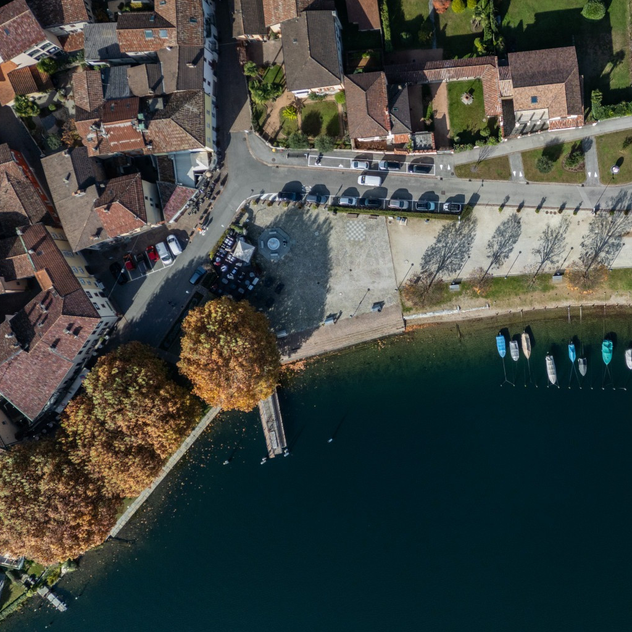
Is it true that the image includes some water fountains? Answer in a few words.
Yes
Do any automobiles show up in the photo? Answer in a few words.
Yes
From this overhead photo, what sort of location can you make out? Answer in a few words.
residential area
